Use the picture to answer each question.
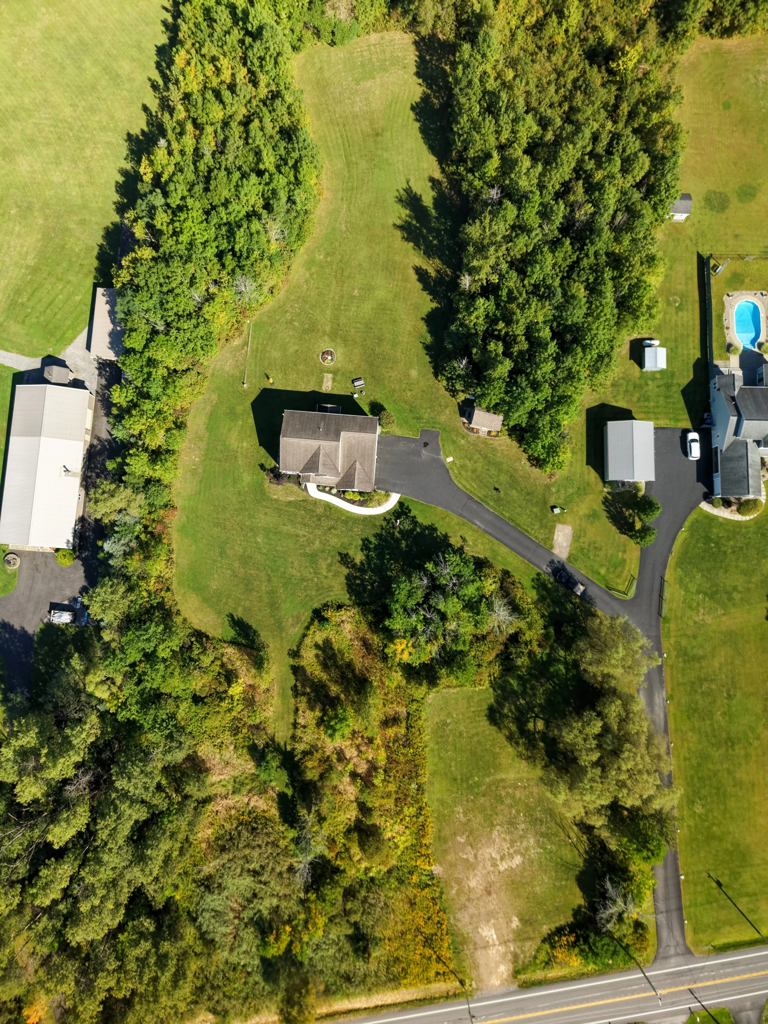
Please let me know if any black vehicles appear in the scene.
Yes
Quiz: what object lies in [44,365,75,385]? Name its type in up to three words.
shed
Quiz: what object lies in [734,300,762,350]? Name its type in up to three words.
swimming pool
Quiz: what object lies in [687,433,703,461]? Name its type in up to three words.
car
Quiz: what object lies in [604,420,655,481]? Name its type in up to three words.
building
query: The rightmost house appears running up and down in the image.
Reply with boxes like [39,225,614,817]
[711,364,768,498]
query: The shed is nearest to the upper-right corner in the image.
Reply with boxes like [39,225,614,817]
[671,193,697,221]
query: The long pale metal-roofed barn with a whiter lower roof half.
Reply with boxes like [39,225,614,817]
[0,384,95,548]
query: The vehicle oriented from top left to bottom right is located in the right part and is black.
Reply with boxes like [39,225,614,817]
[553,566,587,597]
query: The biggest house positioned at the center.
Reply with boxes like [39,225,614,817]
[278,404,380,493]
